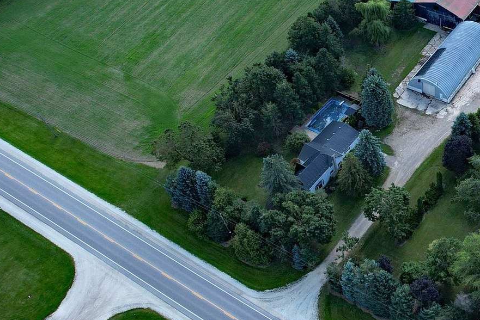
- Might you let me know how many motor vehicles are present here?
0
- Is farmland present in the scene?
Yes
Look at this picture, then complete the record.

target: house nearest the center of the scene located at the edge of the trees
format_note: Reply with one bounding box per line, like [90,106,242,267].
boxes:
[291,121,363,198]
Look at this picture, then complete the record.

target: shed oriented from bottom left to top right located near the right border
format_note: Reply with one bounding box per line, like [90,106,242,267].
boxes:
[406,21,480,103]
